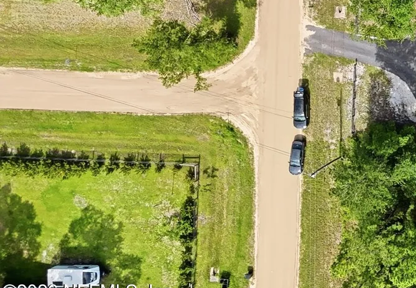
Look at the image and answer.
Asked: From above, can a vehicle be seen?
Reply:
Yes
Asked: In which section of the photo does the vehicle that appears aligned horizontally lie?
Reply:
bottom left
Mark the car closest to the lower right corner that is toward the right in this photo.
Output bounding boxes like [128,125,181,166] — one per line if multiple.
[287,139,306,174]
